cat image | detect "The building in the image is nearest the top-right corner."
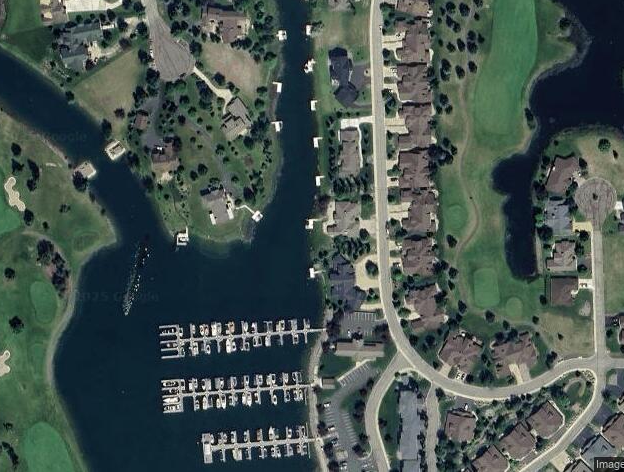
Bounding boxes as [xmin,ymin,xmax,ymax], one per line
[545,153,583,194]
